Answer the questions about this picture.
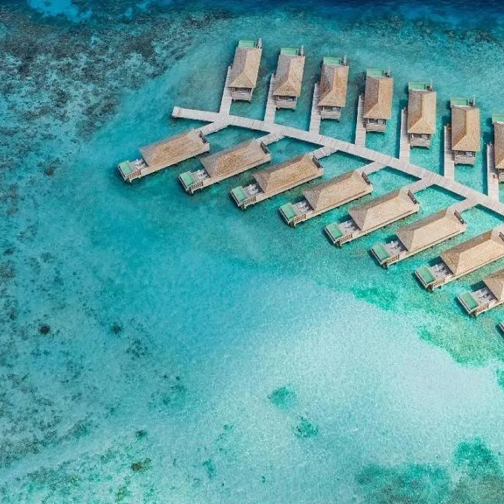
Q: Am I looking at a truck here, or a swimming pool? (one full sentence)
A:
There is a swimming pool in the scene.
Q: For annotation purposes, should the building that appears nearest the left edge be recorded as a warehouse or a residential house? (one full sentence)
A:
It looks like the building that appears nearest the left edge is a residential house.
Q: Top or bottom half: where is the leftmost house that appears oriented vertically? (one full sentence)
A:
The leftmost house that appears oriented vertically is in the top half of the image.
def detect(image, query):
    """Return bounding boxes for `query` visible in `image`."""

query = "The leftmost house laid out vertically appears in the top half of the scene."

[228,43,264,110]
